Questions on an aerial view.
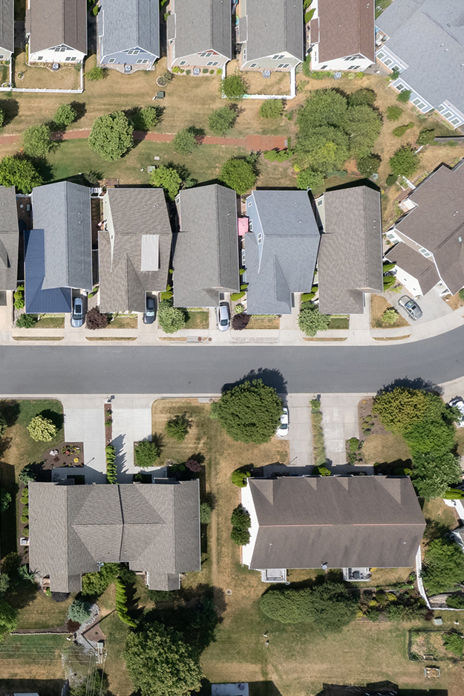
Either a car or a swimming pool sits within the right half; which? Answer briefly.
car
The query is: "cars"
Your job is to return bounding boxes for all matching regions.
[448,399,464,426]
[215,303,231,331]
[142,295,158,325]
[396,292,422,322]
[274,407,289,438]
[71,295,84,328]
